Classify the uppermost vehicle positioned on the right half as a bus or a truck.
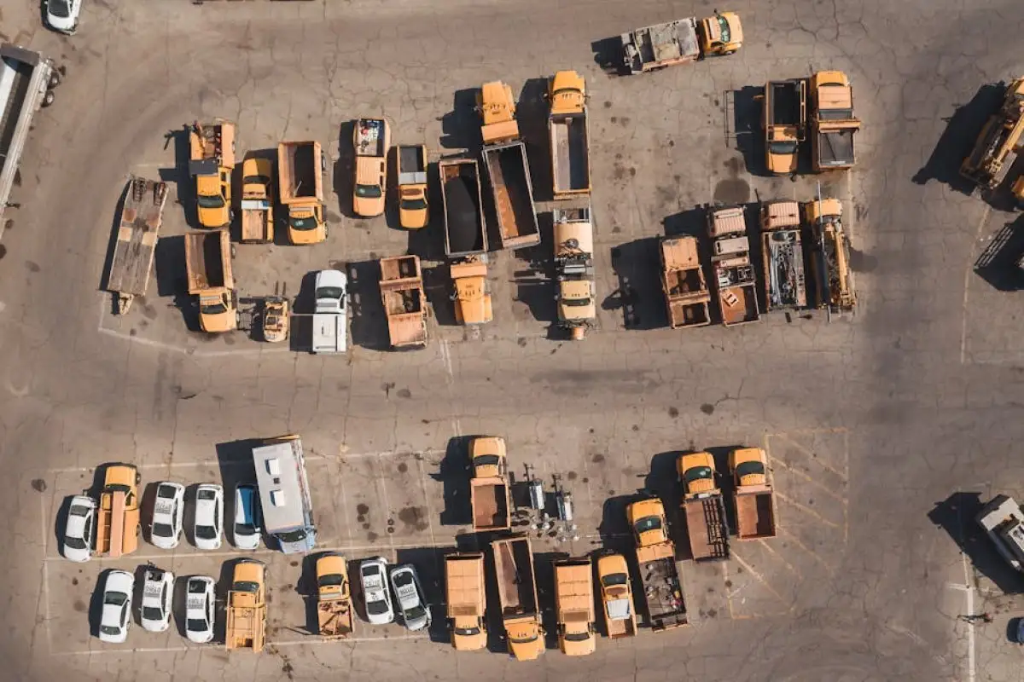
truck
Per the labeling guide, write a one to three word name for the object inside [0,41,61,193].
trailer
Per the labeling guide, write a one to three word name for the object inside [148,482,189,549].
car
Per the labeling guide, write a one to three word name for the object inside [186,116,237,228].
truck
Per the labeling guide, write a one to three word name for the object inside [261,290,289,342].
work vehicle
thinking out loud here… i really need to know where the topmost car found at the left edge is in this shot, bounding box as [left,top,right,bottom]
[47,0,84,34]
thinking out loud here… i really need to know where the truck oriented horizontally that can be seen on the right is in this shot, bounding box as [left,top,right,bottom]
[623,9,743,72]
